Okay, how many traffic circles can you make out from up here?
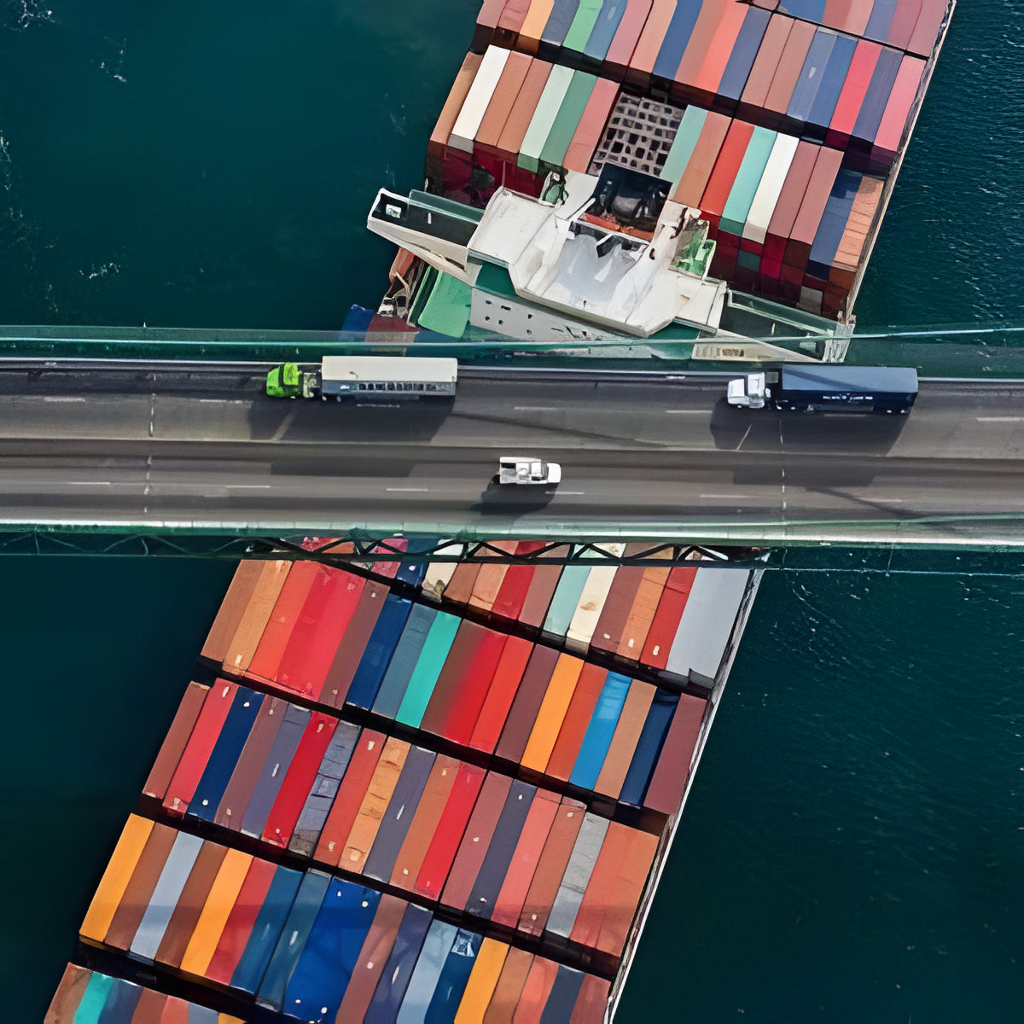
0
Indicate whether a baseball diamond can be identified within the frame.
No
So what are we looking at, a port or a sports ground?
port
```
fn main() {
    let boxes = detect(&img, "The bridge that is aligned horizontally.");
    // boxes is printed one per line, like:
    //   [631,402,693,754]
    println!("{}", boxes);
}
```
[0,326,1024,579]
